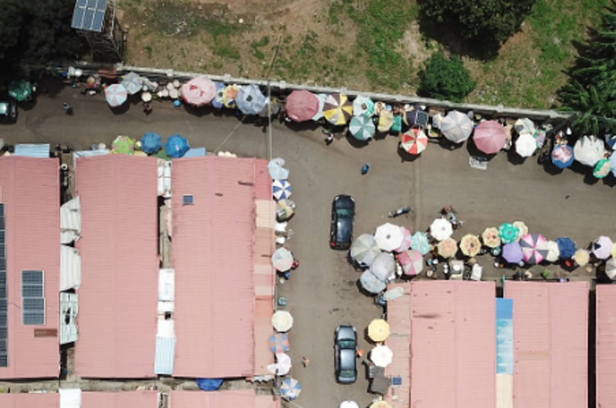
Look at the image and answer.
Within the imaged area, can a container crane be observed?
No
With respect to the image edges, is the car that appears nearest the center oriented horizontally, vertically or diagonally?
vertically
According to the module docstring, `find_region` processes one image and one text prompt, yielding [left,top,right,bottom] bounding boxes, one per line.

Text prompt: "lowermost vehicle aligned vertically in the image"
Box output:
[332,324,361,384]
